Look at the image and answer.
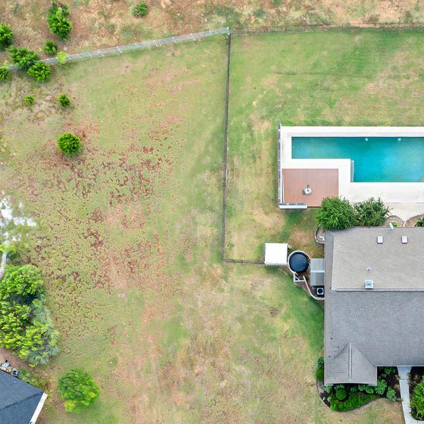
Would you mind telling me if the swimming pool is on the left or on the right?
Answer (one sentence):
You can find the swimming pool on the right side of the picture.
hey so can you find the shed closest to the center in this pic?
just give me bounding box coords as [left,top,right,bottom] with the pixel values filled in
[265,243,289,267]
